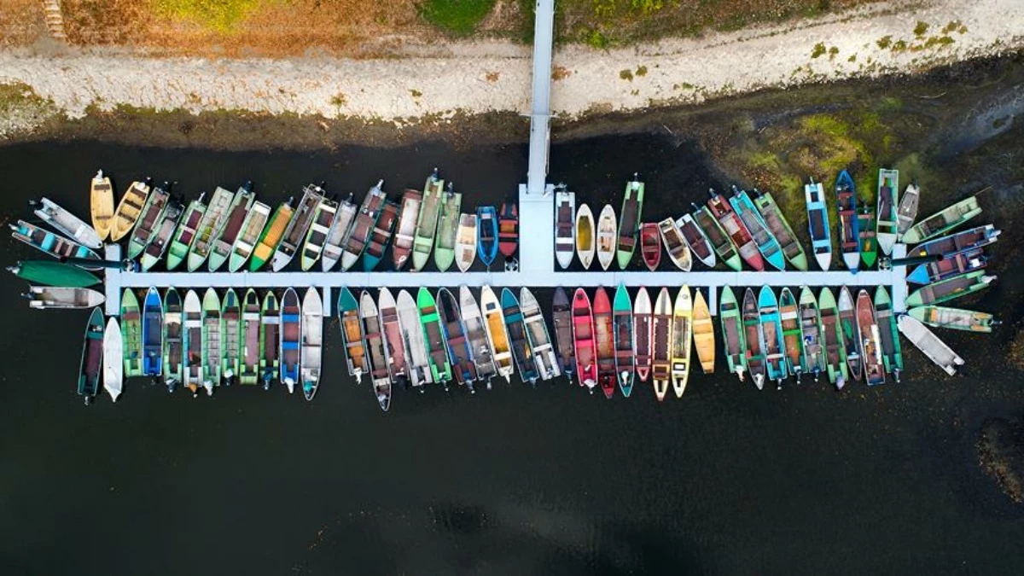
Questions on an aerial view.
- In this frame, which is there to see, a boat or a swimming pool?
boat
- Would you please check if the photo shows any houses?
No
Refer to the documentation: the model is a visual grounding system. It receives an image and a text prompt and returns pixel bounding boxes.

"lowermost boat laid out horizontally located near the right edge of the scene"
[897,305,1001,332]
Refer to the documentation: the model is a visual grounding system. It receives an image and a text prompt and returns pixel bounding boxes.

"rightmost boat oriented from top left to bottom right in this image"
[894,308,965,374]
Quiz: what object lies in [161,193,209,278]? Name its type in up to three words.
boat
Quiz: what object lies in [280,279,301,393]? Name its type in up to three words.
boat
